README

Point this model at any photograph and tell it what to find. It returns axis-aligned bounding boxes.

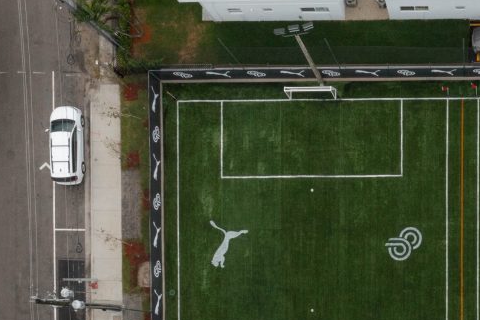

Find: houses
[177,0,344,20]
[383,0,480,20]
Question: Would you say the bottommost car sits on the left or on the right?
left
